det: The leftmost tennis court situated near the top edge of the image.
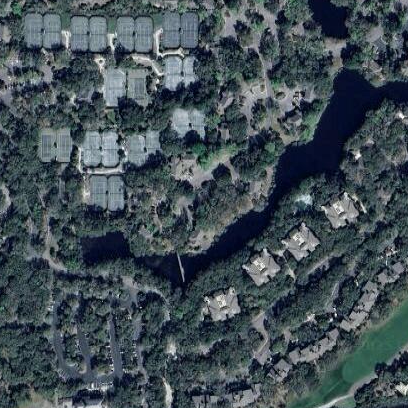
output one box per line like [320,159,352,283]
[24,13,43,49]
